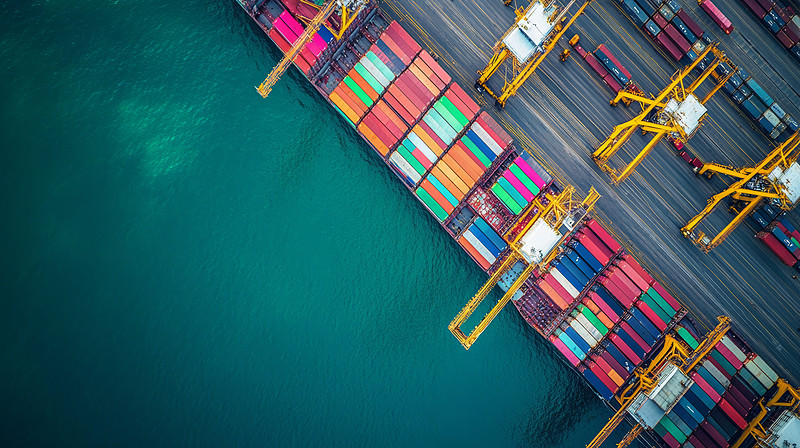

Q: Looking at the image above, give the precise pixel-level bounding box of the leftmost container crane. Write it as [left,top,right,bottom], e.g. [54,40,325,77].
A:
[253,0,379,100]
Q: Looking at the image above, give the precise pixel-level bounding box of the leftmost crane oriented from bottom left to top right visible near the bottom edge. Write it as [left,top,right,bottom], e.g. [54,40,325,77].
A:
[585,314,733,448]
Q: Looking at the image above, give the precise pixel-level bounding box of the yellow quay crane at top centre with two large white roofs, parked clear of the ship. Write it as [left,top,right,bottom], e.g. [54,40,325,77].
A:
[472,0,592,109]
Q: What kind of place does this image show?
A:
port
